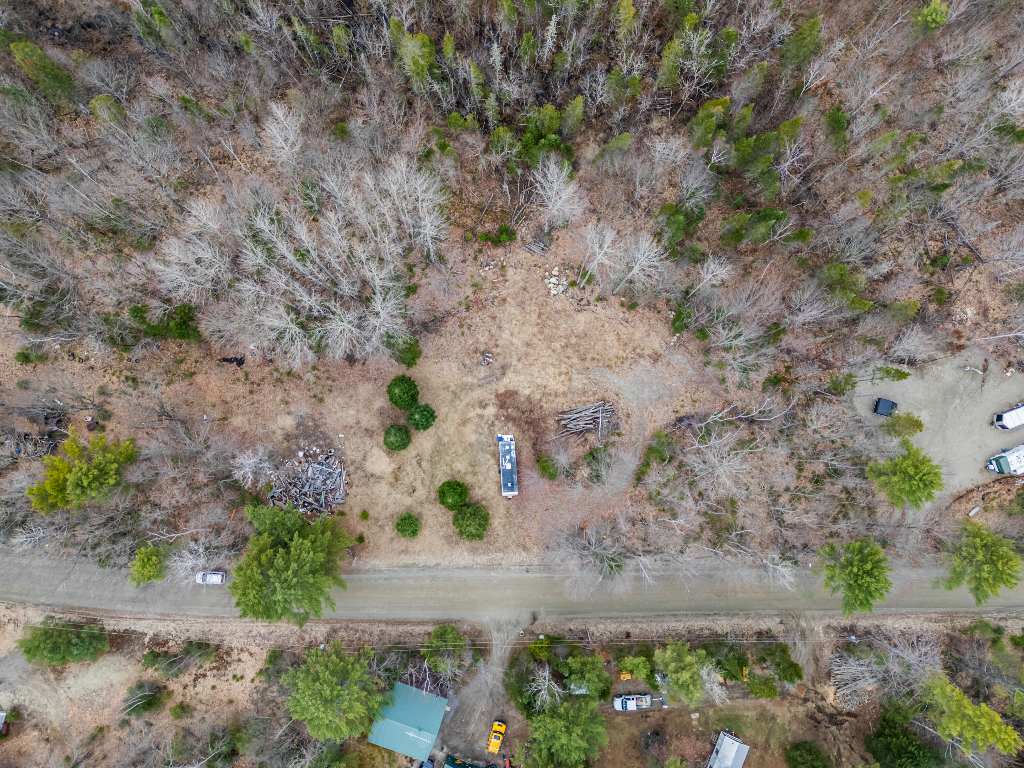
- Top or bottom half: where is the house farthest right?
bottom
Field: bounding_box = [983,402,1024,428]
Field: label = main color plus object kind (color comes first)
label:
white trailer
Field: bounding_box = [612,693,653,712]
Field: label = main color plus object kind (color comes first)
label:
white vehicle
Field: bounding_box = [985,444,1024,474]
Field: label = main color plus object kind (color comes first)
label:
white camper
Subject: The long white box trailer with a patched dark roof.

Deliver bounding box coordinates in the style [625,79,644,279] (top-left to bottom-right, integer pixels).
[499,428,518,496]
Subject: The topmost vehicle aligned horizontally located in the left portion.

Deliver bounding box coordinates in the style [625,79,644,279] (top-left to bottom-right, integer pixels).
[196,570,228,586]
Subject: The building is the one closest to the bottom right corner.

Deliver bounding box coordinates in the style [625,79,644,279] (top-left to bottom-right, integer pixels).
[705,732,750,768]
